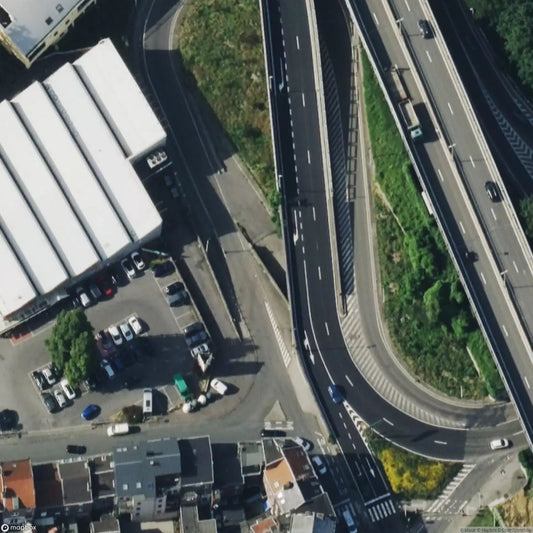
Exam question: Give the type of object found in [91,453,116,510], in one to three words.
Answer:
house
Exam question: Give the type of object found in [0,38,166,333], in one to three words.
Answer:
warehouse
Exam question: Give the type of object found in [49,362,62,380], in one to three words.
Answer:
vehicle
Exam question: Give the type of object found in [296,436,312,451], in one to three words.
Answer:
car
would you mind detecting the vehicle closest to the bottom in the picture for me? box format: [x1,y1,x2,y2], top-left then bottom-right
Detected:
[342,509,356,531]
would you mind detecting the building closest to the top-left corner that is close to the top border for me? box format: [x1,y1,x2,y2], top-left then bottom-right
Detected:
[0,0,107,79]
